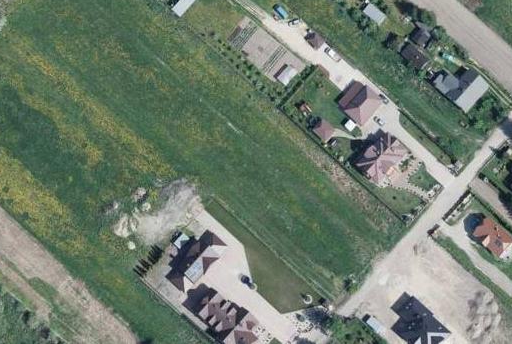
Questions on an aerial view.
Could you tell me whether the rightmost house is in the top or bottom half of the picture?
bottom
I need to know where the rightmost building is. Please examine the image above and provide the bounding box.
[472,219,512,258]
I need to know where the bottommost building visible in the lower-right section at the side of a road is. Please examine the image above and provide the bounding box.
[387,292,451,344]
